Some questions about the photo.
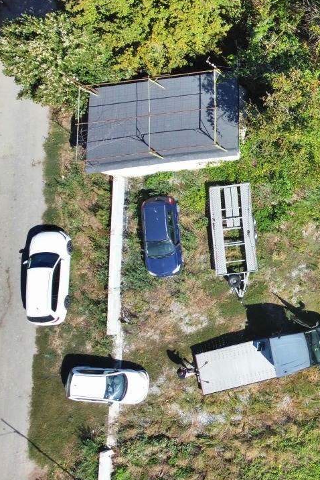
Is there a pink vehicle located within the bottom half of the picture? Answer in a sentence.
No, there's no pink vehicle to be seen within the bottom half of the picture.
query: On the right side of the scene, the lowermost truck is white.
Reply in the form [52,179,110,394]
[196,312,320,396]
